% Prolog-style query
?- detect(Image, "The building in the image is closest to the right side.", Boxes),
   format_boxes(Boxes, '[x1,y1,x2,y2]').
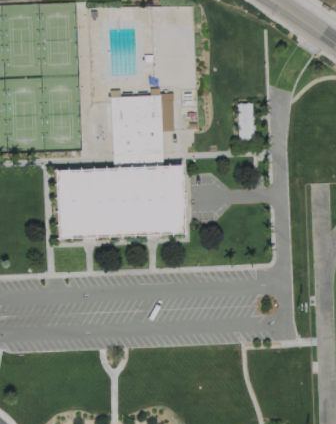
[238,103,255,140]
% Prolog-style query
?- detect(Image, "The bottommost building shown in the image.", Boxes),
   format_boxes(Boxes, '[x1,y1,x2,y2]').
[54,164,186,242]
